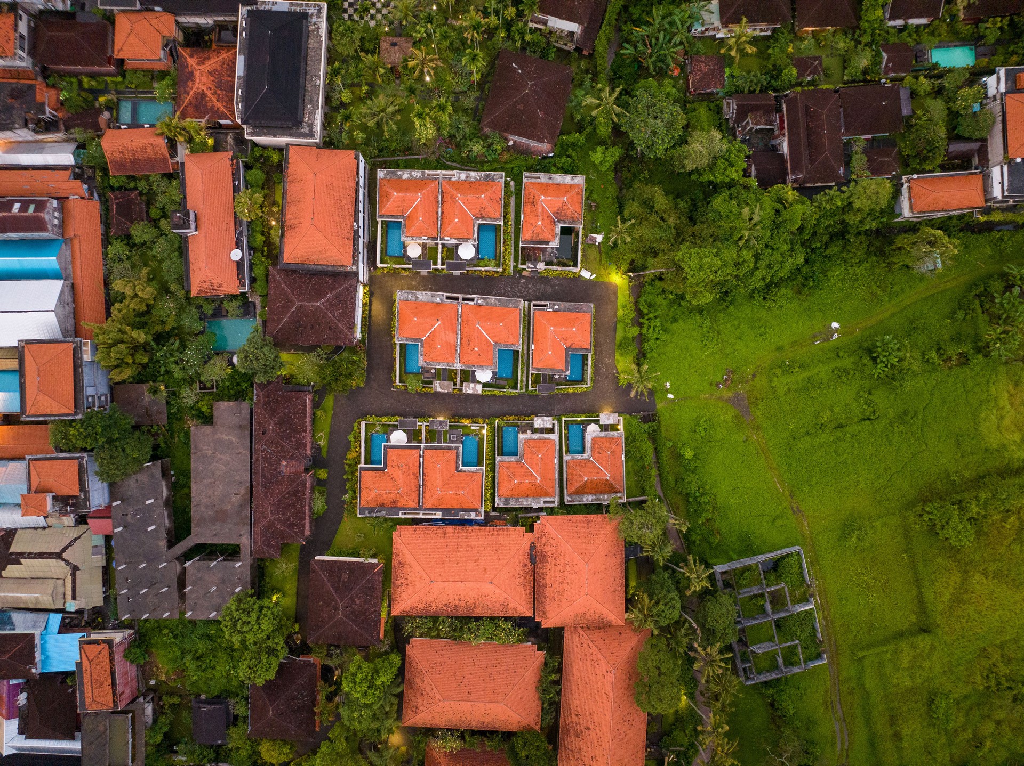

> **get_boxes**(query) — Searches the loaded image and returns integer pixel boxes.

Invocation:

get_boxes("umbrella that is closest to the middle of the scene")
[475,370,492,384]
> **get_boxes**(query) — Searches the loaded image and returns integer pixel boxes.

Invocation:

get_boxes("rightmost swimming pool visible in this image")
[928,43,978,70]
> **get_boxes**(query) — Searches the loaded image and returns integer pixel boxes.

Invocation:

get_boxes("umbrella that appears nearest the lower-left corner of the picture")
[390,428,407,443]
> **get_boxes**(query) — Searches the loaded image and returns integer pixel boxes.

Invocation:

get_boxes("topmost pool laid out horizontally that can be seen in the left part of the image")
[114,97,177,127]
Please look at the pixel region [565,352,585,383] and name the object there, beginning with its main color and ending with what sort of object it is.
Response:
blue swimming pool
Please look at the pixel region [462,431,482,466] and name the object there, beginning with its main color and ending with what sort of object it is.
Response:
blue swimming pool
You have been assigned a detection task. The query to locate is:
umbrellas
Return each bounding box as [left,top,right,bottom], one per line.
[458,243,475,260]
[587,422,600,433]
[390,428,407,443]
[407,244,421,258]
[475,370,492,384]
